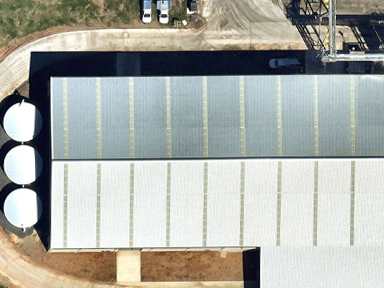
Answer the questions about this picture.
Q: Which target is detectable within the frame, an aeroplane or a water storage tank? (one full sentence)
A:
Of the two, only a water storage tank appears.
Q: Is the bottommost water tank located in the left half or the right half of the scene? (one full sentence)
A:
The bottommost water tank is on the left side of the image.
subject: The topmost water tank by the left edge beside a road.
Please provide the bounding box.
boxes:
[2,91,43,144]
